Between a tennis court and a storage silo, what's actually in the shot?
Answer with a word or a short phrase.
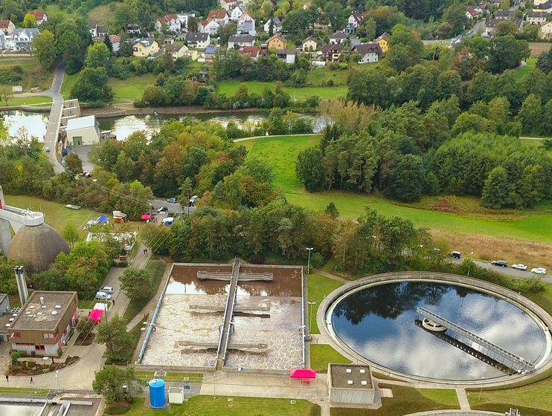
storage silo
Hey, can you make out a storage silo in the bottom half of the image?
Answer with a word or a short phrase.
Yes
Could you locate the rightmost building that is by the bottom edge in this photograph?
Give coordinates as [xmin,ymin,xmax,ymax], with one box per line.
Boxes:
[325,360,378,404]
